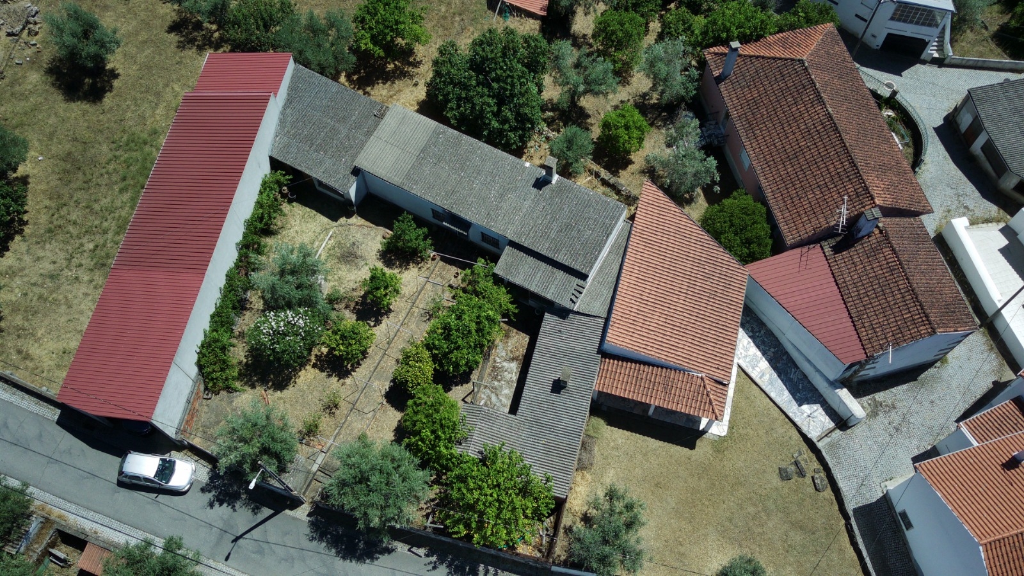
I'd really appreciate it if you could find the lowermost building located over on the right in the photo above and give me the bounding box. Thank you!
[885,428,1024,576]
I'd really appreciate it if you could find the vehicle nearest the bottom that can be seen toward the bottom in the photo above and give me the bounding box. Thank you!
[117,456,199,495]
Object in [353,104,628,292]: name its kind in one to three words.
house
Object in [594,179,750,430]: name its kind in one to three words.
house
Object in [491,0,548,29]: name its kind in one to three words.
shed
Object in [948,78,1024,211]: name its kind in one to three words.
barn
